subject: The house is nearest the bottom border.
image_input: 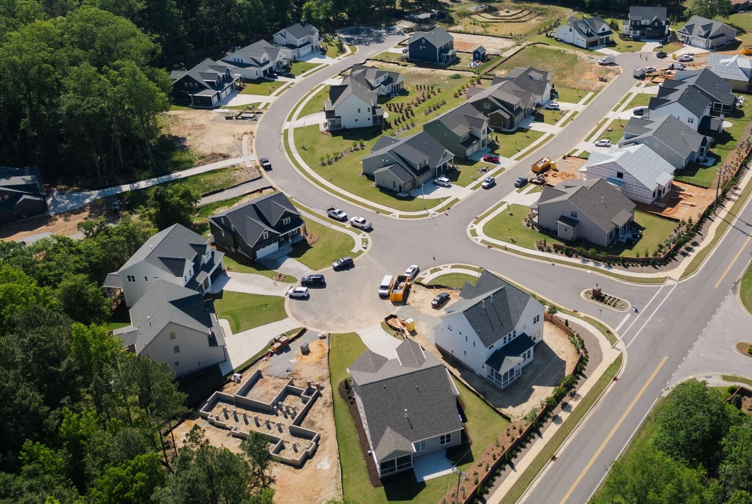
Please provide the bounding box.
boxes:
[347,335,463,477]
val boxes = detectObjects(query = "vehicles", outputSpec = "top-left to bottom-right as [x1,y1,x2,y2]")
[654,50,669,56]
[678,54,694,61]
[332,254,354,269]
[402,262,420,277]
[261,156,271,168]
[380,271,392,292]
[645,65,656,71]
[545,101,560,108]
[288,286,309,297]
[428,291,451,306]
[350,216,372,228]
[599,55,615,63]
[480,174,496,187]
[483,154,500,162]
[670,61,686,69]
[595,137,611,145]
[326,202,347,217]
[282,72,296,78]
[433,176,452,184]
[300,272,325,286]
[660,36,668,43]
[513,176,528,186]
